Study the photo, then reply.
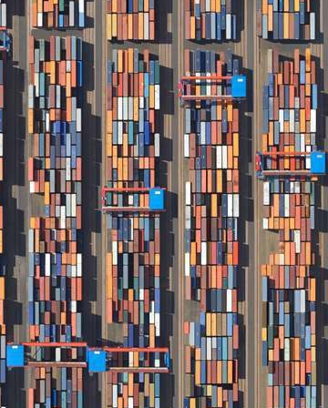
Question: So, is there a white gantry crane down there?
No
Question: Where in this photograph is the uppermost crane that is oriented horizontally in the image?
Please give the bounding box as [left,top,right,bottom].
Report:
[174,74,250,106]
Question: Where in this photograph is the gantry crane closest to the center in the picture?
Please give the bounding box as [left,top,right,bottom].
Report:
[97,184,170,216]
